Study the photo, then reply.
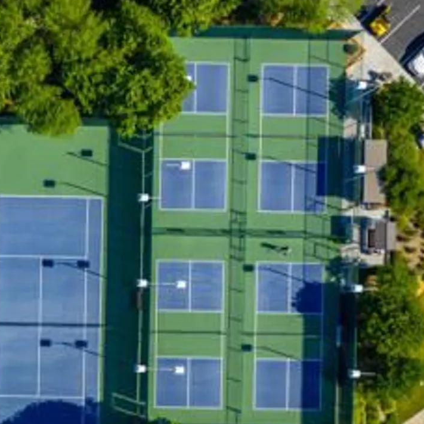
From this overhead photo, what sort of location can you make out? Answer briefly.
sports ground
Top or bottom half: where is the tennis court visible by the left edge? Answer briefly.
bottom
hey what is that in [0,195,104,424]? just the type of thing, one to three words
tennis court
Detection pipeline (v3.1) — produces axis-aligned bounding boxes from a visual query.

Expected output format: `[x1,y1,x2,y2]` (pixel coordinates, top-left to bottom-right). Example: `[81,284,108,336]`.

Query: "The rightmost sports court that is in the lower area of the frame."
[254,262,324,411]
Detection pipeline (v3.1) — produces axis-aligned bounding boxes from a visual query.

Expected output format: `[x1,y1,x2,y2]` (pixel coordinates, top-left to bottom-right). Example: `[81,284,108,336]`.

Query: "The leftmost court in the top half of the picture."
[160,63,231,211]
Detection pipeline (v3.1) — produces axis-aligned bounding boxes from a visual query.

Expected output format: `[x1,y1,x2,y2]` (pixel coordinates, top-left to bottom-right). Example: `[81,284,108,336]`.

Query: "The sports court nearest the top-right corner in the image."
[260,64,331,213]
